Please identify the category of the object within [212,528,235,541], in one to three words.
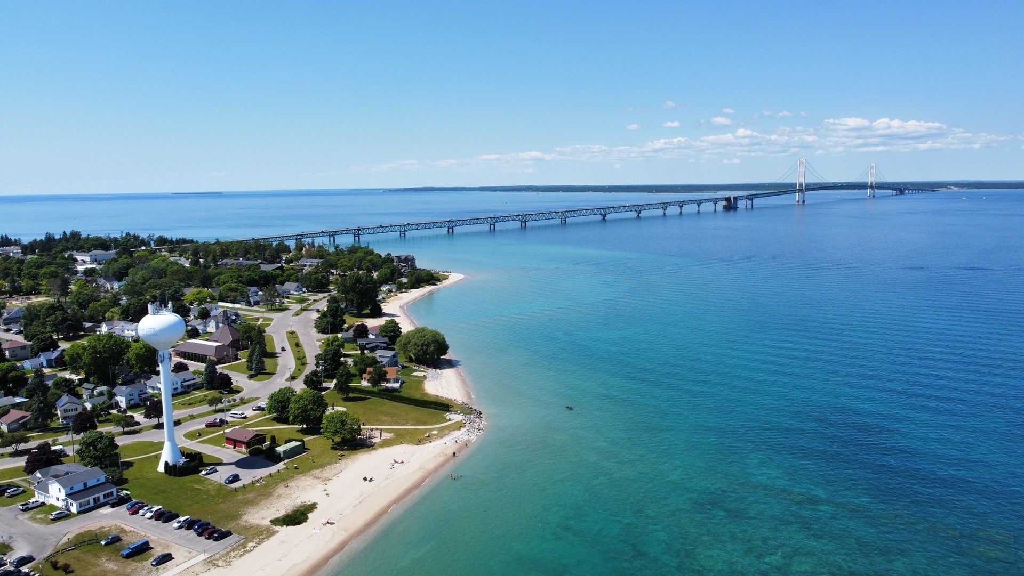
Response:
vehicle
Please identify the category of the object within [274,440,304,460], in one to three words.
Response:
shed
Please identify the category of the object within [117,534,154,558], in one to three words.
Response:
truck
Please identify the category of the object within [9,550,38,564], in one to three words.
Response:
car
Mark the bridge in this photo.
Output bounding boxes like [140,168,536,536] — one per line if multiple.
[129,158,950,251]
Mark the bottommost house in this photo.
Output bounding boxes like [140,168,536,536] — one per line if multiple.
[33,459,136,514]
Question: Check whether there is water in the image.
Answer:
Yes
